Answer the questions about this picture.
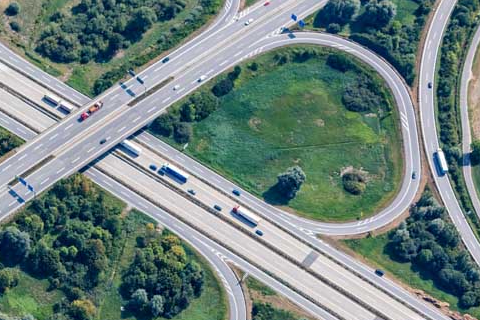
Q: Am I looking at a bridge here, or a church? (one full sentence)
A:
Visible in the photo is a bridge.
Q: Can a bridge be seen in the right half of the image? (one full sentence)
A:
No, in the right half of the image there is no bridge.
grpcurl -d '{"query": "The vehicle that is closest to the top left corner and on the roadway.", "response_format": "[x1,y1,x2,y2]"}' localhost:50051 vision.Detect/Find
[45,94,73,113]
